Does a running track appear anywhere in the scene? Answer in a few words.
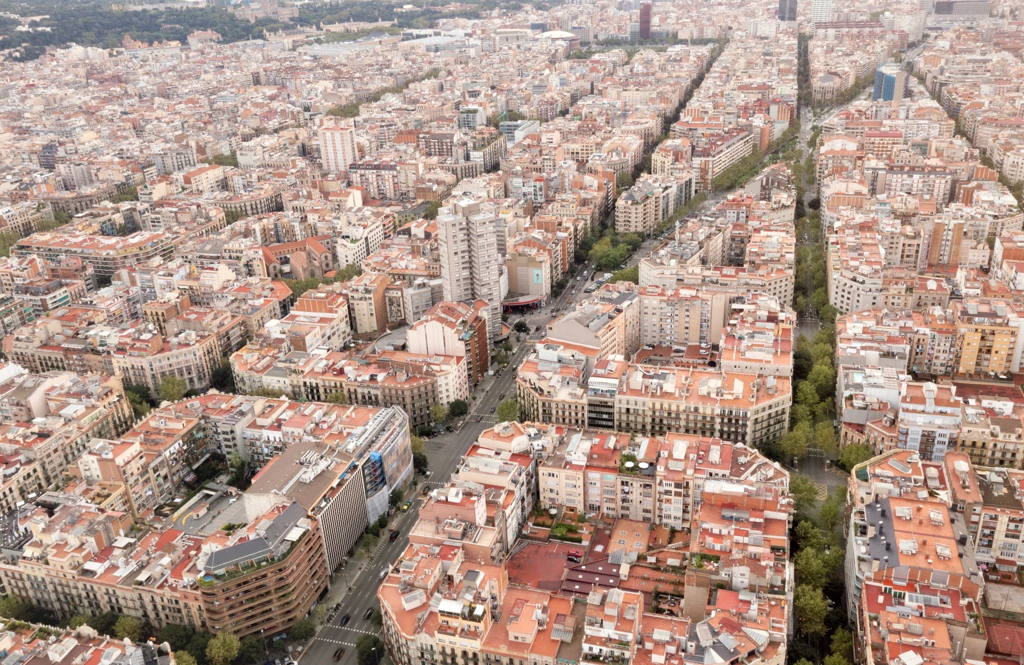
No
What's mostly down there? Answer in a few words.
buildings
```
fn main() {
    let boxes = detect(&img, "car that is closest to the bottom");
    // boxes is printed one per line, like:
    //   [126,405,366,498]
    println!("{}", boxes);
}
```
[331,647,344,660]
